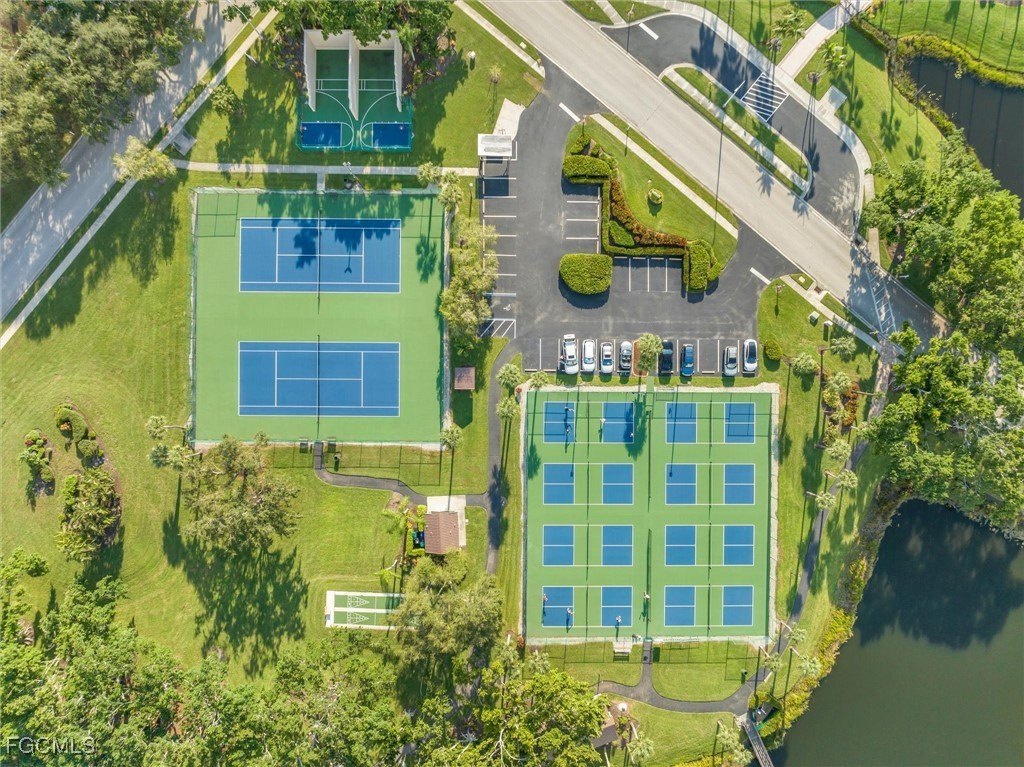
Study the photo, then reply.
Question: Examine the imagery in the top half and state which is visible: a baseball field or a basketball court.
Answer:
basketball court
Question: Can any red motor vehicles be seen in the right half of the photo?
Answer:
No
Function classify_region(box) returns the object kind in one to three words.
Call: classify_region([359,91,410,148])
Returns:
basketball court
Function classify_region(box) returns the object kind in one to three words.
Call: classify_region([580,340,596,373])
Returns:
car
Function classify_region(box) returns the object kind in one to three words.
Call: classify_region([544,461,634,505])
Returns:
sports court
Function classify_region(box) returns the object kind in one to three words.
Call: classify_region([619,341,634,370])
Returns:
car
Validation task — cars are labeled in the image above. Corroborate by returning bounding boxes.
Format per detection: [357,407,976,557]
[619,341,634,370]
[741,339,758,371]
[598,342,614,374]
[659,340,676,373]
[558,336,579,374]
[680,344,696,377]
[722,346,739,377]
[580,340,596,373]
